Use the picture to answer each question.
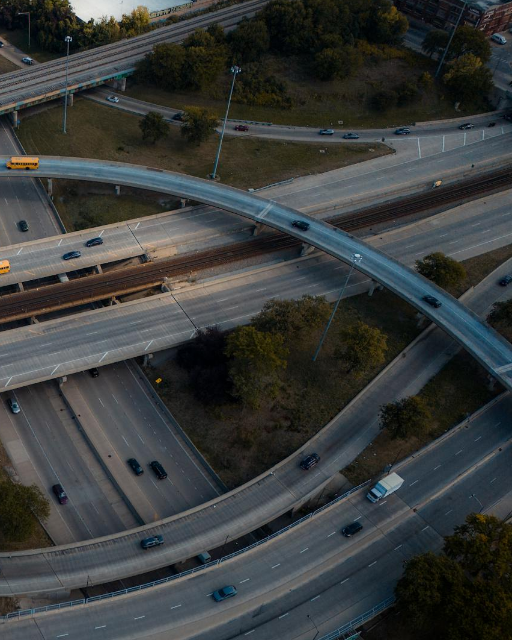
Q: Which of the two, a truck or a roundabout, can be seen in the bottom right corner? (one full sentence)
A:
There is a truck in the bottom right corner.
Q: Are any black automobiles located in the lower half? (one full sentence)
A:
Yes, looking in the lower half, one can make out a black automobile.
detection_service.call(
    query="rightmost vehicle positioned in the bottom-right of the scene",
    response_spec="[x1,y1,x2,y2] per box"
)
[366,467,409,503]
